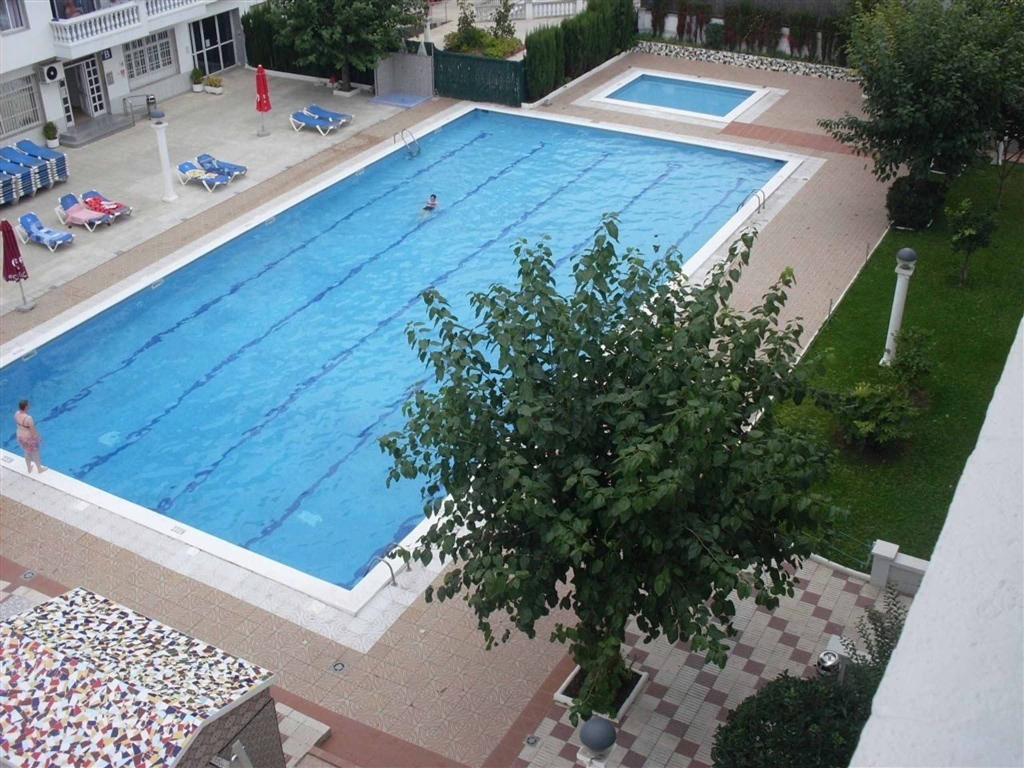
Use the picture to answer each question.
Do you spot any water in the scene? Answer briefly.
Yes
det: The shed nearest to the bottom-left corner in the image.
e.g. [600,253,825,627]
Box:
[0,585,284,768]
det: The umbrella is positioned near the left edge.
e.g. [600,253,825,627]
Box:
[0,218,41,313]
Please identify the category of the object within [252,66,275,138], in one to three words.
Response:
umbrella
